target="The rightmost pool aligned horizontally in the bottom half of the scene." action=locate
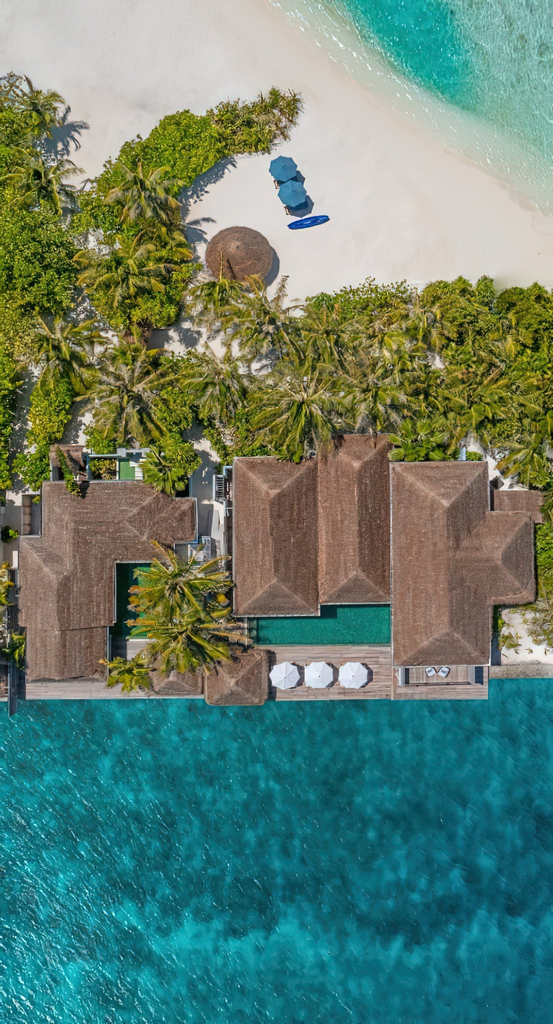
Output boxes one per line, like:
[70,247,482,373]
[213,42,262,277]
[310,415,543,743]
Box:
[248,604,391,646]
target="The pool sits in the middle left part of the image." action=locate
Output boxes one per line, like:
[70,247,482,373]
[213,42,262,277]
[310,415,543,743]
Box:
[111,558,176,638]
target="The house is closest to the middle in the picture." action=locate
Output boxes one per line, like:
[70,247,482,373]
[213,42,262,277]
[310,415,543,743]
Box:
[232,435,391,617]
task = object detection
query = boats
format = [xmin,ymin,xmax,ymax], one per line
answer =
[288,215,330,229]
